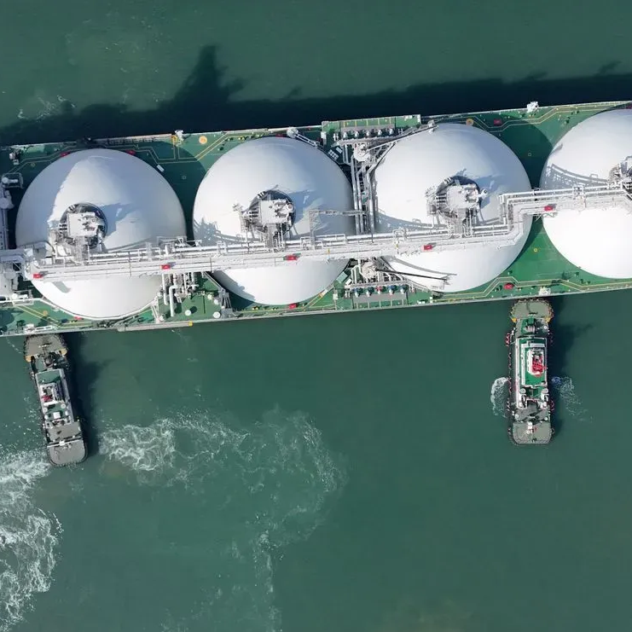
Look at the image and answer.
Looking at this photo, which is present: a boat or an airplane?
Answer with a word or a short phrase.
boat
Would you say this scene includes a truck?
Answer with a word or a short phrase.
No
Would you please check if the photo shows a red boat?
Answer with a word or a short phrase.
No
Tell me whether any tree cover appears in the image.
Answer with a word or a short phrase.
No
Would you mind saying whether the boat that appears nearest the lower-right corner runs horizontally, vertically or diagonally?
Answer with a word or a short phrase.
vertically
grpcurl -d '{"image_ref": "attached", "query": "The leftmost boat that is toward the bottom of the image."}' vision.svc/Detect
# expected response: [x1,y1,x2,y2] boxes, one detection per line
[21,332,90,467]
